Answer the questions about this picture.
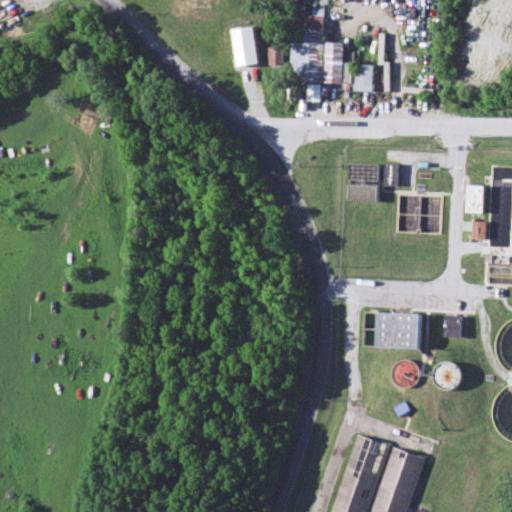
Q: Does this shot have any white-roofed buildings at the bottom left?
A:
No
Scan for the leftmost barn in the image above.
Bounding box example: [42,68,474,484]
[230,26,258,69]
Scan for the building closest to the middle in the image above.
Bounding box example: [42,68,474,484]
[348,164,380,202]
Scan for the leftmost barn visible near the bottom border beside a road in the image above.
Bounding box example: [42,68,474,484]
[334,434,388,512]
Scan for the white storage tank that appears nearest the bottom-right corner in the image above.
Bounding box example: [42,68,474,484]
[433,362,463,390]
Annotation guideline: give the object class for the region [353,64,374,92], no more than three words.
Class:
building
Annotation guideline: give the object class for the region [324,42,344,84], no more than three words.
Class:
building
